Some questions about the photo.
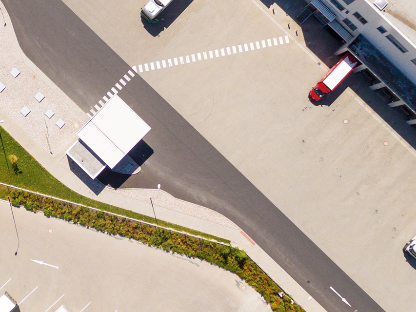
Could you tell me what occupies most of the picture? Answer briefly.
paved ground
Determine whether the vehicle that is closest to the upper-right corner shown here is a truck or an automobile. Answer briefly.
truck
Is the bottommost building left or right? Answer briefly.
left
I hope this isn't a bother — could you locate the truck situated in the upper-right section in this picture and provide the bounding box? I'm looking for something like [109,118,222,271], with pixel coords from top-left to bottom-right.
[310,54,358,102]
